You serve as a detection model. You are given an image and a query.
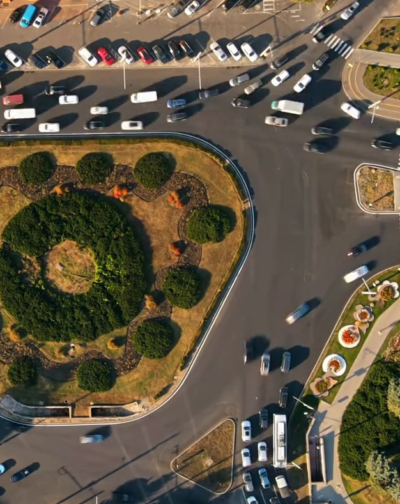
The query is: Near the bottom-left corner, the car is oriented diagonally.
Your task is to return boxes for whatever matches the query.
[13,466,34,482]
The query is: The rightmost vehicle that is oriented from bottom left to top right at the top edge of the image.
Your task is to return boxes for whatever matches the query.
[341,0,359,22]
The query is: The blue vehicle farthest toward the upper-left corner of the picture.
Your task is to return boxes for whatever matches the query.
[20,2,36,28]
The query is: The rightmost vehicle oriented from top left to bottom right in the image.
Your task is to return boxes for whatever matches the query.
[339,101,362,120]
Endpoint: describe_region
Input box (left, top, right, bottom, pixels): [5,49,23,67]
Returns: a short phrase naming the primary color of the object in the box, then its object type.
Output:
white car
